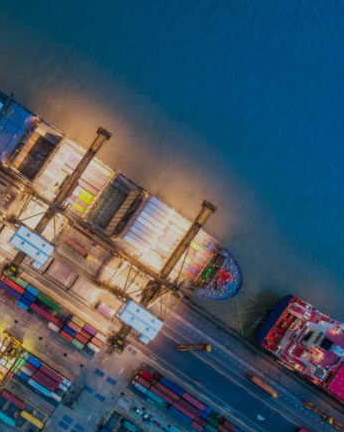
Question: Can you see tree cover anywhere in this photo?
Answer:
No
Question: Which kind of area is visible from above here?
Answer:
port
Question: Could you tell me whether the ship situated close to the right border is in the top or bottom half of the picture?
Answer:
bottom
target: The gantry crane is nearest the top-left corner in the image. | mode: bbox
[1,126,110,273]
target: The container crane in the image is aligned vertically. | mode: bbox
[0,328,29,388]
